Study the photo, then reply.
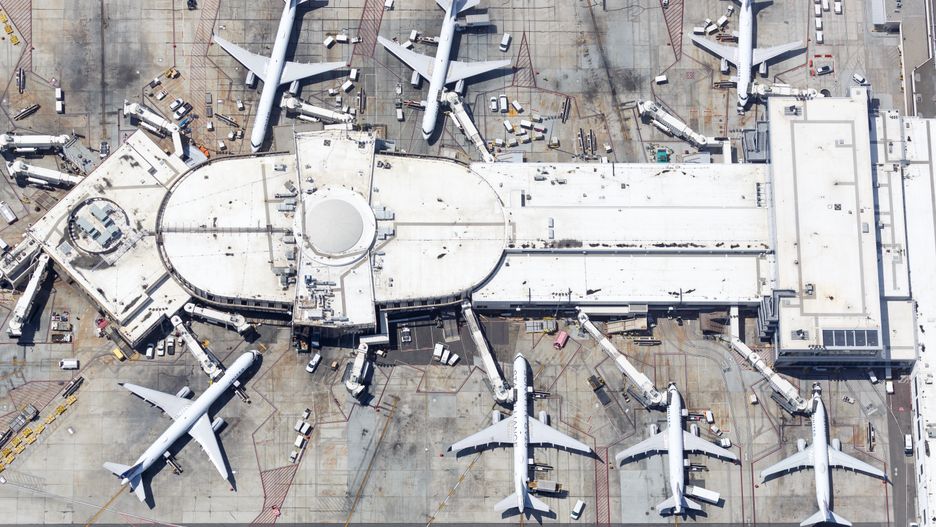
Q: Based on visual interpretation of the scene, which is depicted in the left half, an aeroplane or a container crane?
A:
aeroplane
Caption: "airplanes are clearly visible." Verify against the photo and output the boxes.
[688,0,802,104]
[616,385,739,515]
[208,0,346,152]
[761,388,887,527]
[105,353,258,500]
[372,0,508,140]
[448,354,591,513]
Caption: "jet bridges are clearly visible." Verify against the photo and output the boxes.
[125,101,180,137]
[8,253,53,336]
[440,90,495,163]
[170,315,225,383]
[637,100,707,153]
[462,301,516,403]
[730,337,815,412]
[7,160,88,190]
[578,313,668,406]
[185,303,251,336]
[751,82,818,99]
[278,93,356,128]
[344,342,369,396]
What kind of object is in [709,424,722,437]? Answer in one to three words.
vehicle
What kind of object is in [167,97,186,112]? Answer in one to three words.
vehicle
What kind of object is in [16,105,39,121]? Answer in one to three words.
work vehicle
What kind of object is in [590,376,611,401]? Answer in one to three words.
truck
